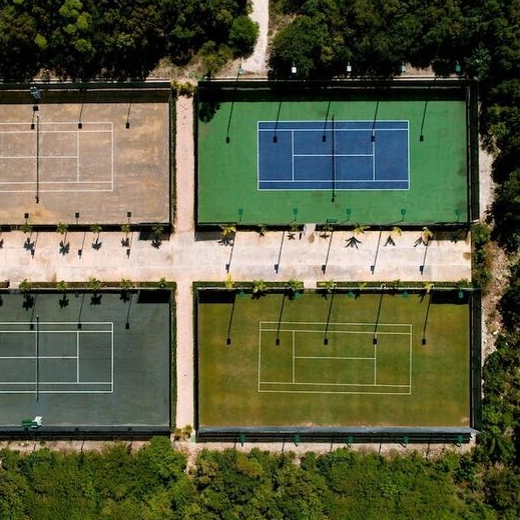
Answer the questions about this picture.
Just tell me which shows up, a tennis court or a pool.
tennis court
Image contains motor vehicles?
No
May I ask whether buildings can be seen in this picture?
No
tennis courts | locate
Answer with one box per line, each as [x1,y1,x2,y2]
[198,87,469,223]
[0,89,169,224]
[0,290,169,426]
[200,289,472,426]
